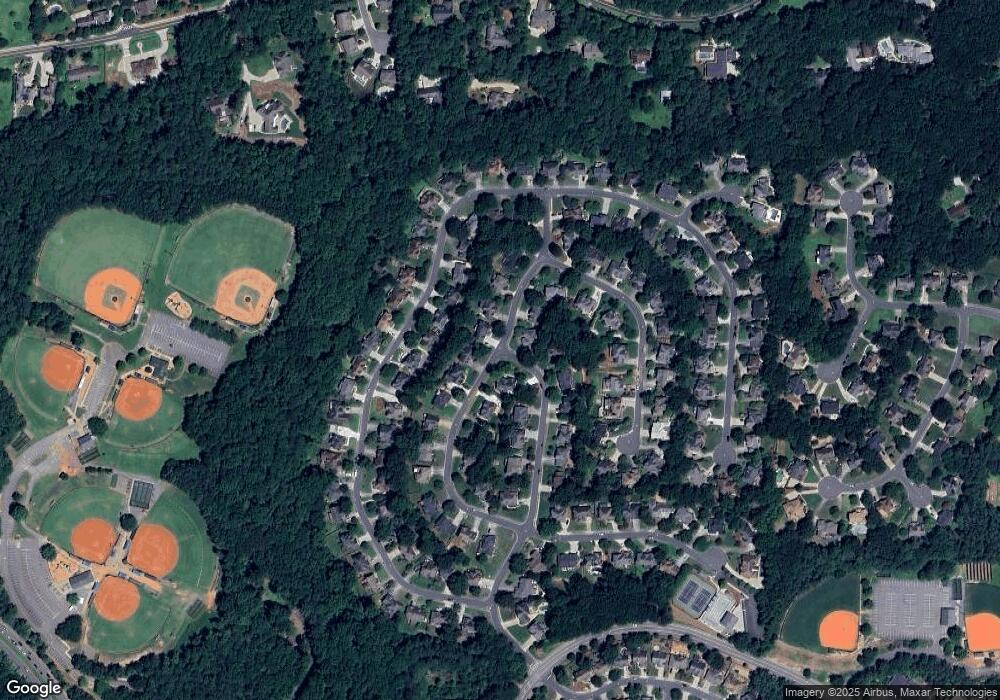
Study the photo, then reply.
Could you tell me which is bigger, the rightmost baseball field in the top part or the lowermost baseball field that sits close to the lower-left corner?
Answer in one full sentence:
The rightmost baseball field in the top part covers a greater area than the lowermost baseball field that sits close to the lower-left corner.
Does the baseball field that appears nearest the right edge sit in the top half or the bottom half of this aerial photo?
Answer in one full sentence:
Seen from above, the baseball field that appears nearest the right edge lies in the bottom half of the view.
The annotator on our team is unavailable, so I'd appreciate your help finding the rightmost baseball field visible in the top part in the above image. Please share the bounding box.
[165,205,295,326]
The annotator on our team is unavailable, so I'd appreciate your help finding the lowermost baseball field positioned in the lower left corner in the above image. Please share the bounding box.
[90,576,172,660]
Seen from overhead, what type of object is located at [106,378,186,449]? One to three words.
baseball field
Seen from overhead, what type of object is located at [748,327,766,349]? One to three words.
house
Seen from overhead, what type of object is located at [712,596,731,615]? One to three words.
swimming pool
